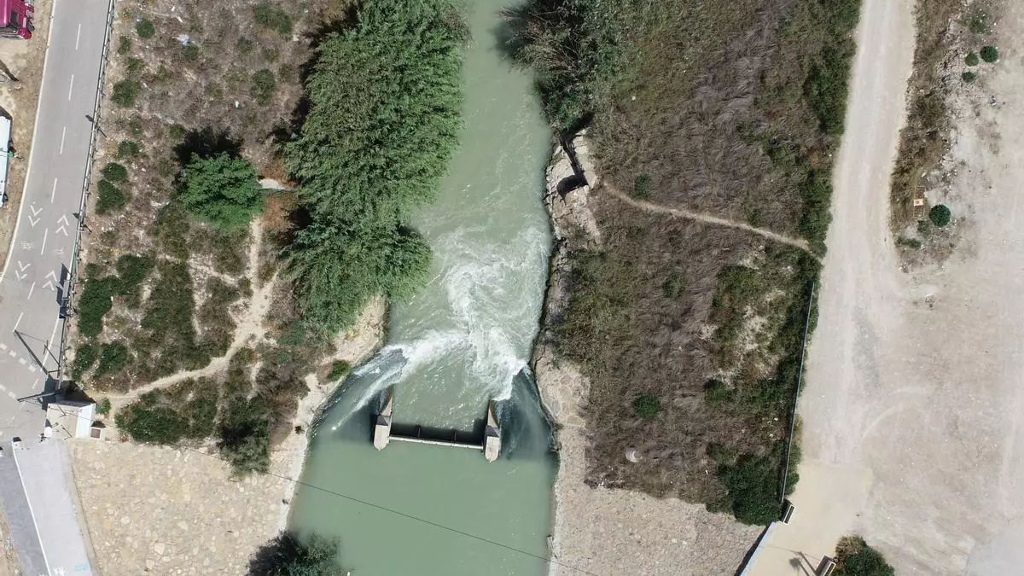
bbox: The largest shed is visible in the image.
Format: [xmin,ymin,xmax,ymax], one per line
[43,399,96,439]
